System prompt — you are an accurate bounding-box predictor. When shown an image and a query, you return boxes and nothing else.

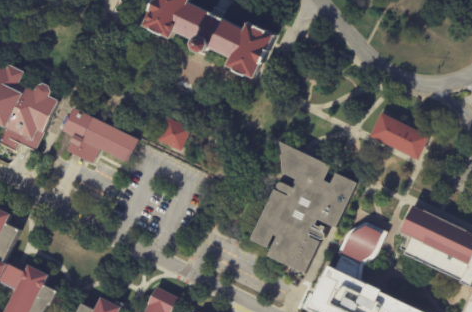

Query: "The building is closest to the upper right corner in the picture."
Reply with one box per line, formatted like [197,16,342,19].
[370,110,431,162]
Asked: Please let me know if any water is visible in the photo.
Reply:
No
